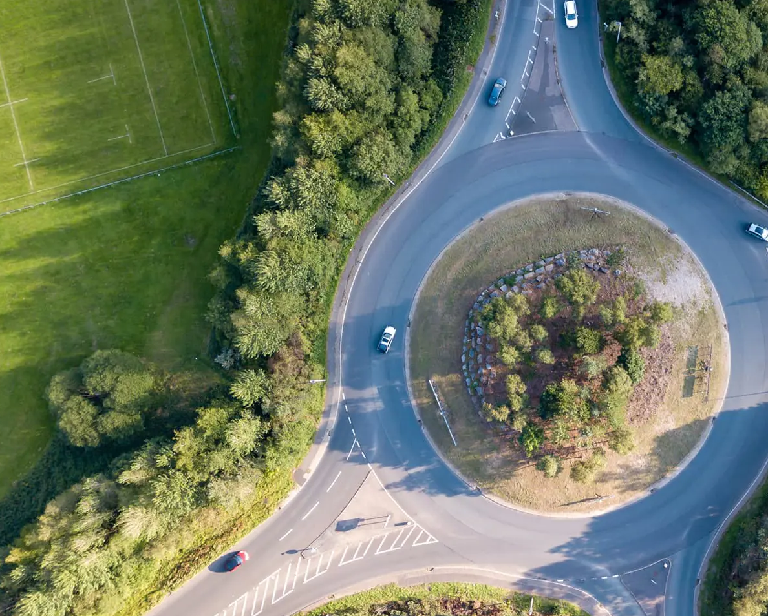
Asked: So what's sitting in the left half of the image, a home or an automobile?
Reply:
automobile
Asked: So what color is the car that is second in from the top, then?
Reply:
blue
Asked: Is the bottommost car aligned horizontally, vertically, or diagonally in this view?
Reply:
diagonally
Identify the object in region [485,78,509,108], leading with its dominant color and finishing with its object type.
blue car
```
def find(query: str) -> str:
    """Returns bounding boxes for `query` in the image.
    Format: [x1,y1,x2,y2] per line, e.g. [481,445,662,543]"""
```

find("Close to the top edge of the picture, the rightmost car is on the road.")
[564,0,579,30]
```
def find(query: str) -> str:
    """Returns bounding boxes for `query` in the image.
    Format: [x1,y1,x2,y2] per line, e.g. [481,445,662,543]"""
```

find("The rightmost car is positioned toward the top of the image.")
[744,221,768,242]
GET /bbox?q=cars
[744,221,768,242]
[376,325,397,354]
[485,78,509,108]
[222,548,249,573]
[564,0,579,30]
